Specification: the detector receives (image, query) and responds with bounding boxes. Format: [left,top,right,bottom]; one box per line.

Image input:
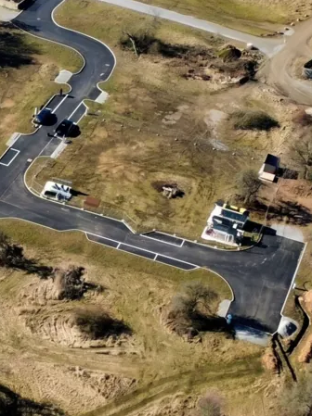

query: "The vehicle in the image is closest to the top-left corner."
[35,108,53,121]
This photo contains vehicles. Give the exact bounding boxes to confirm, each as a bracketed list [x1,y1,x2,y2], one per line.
[35,108,53,121]
[42,181,71,198]
[55,122,72,136]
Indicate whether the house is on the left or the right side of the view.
right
